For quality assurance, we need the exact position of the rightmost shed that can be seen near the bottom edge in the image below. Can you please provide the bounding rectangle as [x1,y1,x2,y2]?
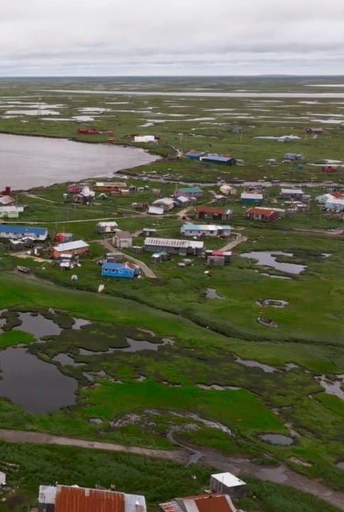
[218,476,249,498]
